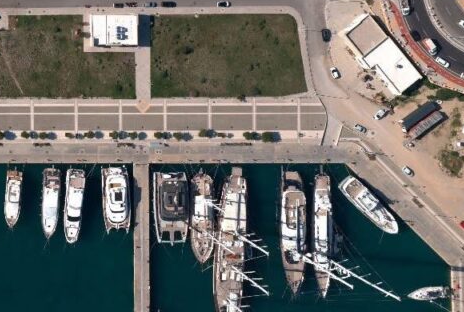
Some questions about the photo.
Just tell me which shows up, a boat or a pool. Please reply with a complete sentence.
The one in the frame is a boat.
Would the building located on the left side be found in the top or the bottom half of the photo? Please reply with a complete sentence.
The building located on the left side sits in the top half of the picture.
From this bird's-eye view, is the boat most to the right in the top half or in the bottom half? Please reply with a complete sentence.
The boat most to the right sits in the bottom half of the picture.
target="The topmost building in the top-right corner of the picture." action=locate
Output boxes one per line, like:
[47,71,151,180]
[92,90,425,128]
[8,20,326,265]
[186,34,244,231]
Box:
[338,14,423,95]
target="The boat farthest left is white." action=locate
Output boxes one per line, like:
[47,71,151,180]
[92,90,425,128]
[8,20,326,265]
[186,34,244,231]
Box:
[4,159,23,228]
